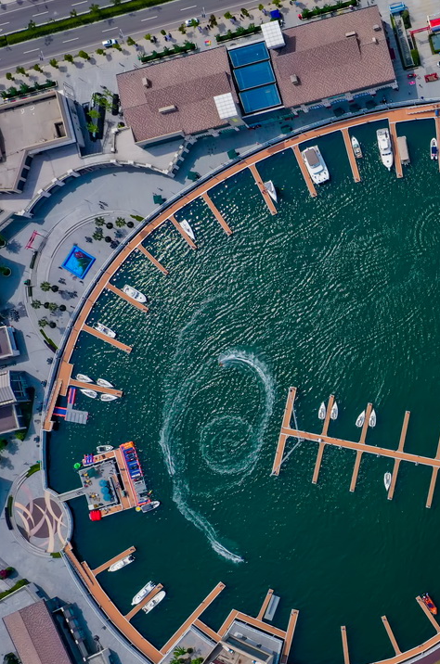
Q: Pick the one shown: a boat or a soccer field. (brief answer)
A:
boat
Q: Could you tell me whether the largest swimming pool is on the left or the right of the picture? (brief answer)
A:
left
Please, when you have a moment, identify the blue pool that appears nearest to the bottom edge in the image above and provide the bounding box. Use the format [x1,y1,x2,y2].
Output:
[62,246,97,279]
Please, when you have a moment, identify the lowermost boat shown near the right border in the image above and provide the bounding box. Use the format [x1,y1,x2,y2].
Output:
[423,594,435,615]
